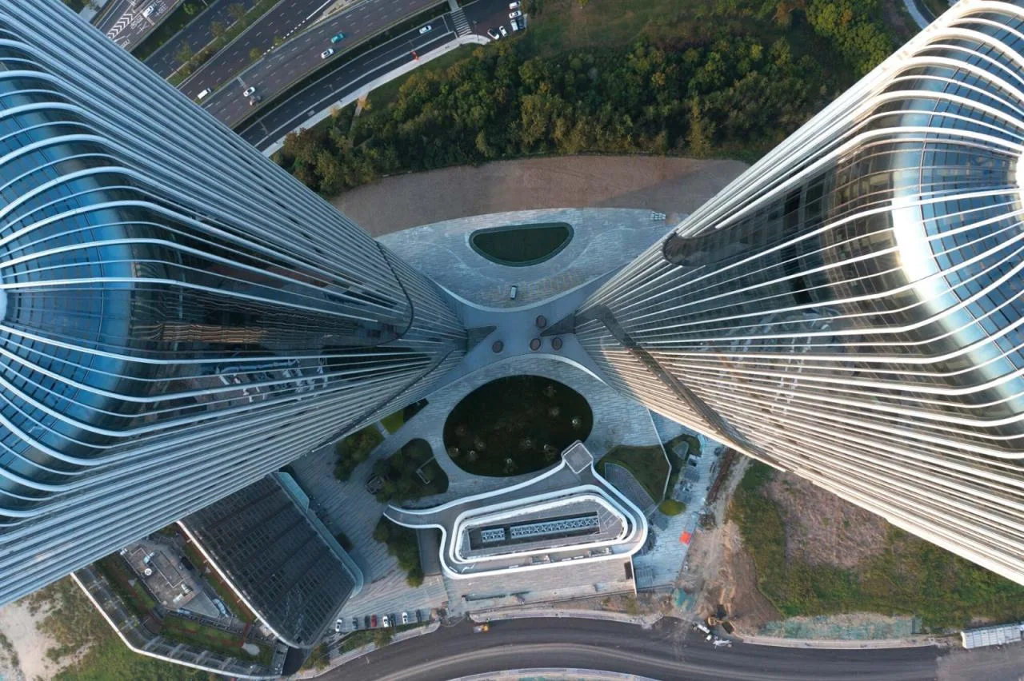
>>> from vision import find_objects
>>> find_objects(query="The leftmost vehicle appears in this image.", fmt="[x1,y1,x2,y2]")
[139,1,155,18]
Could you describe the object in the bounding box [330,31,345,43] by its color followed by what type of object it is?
blue vehicle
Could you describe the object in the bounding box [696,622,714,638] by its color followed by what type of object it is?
white vehicle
